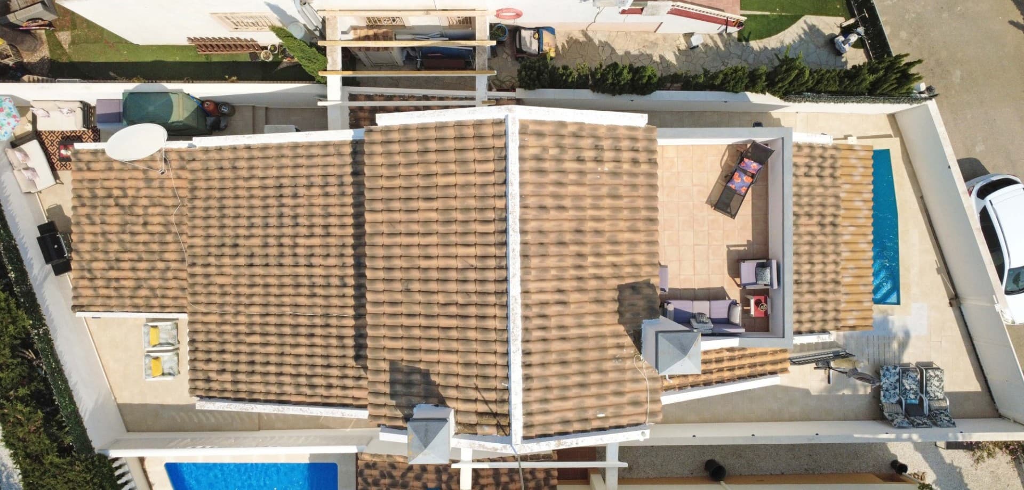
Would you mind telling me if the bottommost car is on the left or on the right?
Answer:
right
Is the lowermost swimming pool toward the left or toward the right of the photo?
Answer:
left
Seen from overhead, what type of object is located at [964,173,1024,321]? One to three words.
car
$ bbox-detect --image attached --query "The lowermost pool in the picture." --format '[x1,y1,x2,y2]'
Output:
[164,463,338,490]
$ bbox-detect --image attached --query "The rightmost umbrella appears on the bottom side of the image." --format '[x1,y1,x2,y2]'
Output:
[814,357,871,386]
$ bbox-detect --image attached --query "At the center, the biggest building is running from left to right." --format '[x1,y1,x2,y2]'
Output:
[68,105,875,463]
